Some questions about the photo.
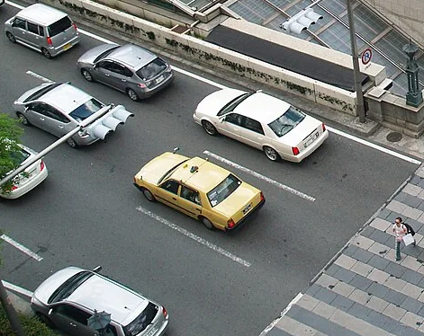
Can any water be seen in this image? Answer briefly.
No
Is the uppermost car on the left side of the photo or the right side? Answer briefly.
left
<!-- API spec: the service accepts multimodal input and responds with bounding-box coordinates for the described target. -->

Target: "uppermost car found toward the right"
[186,89,325,162]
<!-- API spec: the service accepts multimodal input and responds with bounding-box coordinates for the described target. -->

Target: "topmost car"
[0,0,82,54]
